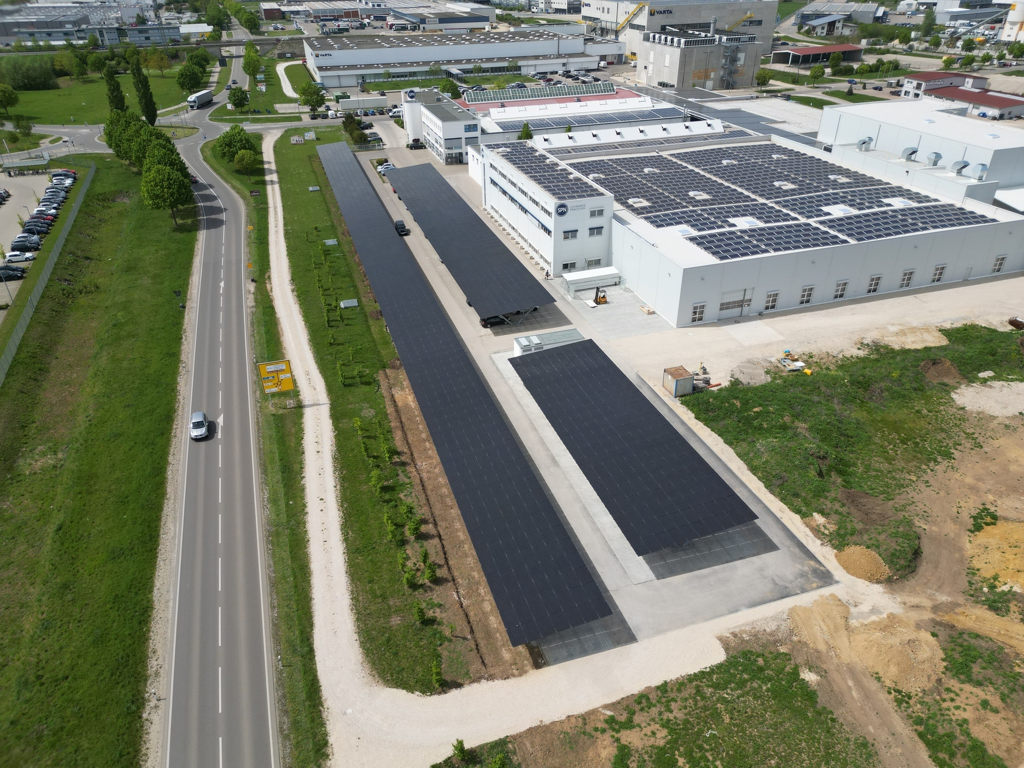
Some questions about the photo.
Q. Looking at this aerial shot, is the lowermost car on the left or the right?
left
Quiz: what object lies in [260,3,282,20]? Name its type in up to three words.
building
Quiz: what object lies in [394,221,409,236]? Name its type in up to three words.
car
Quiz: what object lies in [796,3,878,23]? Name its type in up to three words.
building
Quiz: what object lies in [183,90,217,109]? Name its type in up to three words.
vehicle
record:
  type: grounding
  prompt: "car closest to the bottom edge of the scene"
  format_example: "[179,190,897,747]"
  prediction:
[188,410,211,439]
